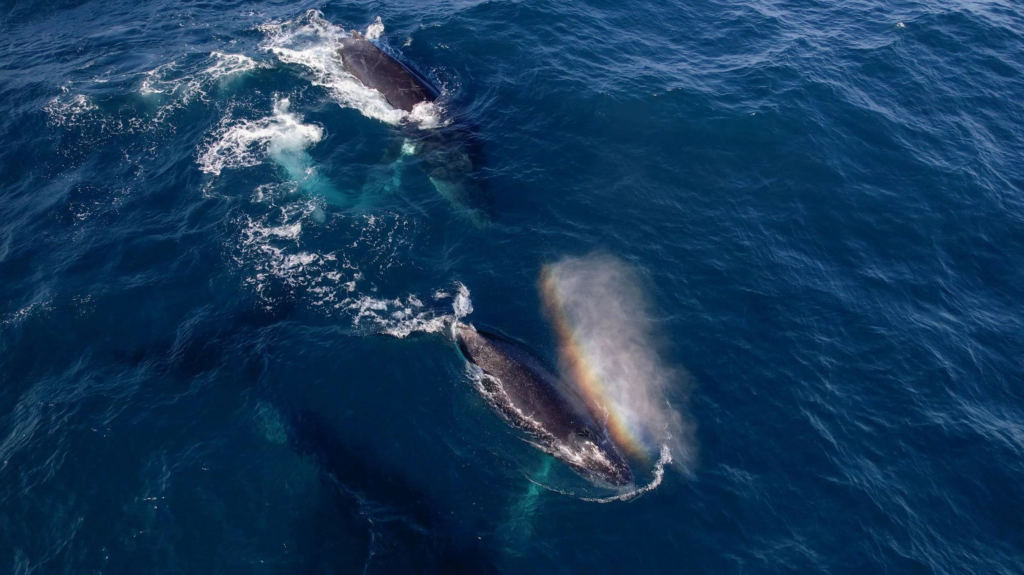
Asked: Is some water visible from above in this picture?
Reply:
Yes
